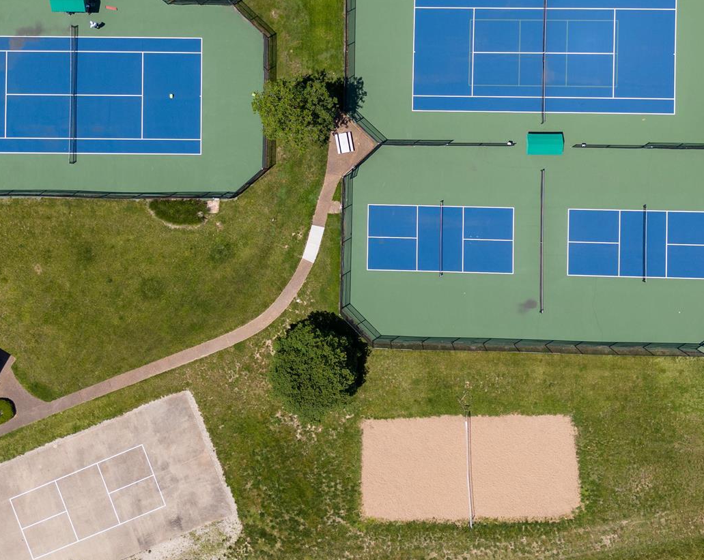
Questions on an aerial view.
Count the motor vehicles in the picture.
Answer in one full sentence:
The photo contains no motor vehicles.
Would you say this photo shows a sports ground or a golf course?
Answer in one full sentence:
This image shows a sports ground.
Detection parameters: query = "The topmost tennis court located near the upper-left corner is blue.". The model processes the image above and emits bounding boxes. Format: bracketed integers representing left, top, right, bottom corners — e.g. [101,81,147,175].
[0,35,203,154]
